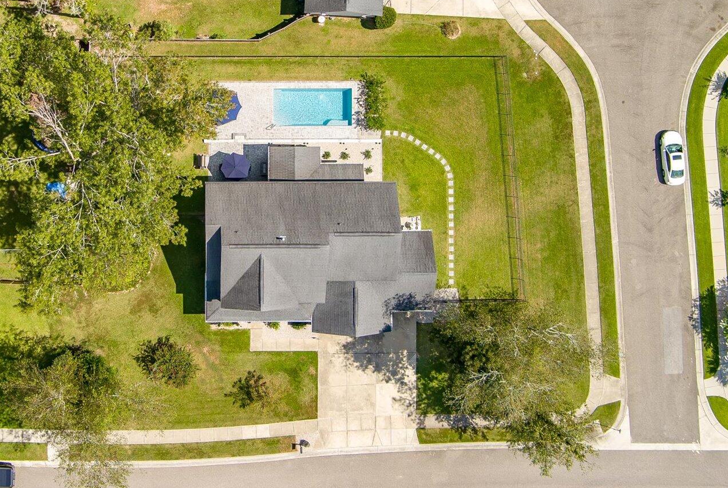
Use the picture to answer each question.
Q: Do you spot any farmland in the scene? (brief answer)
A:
No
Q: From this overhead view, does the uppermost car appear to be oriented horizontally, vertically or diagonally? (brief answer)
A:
vertically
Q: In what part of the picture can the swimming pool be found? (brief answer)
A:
top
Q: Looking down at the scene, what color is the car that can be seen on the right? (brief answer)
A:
white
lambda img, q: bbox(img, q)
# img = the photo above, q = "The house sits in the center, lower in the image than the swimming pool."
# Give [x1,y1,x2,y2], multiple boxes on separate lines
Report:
[205,145,436,336]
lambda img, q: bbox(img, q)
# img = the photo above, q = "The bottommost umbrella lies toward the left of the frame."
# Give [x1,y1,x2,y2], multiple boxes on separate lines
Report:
[221,150,250,180]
